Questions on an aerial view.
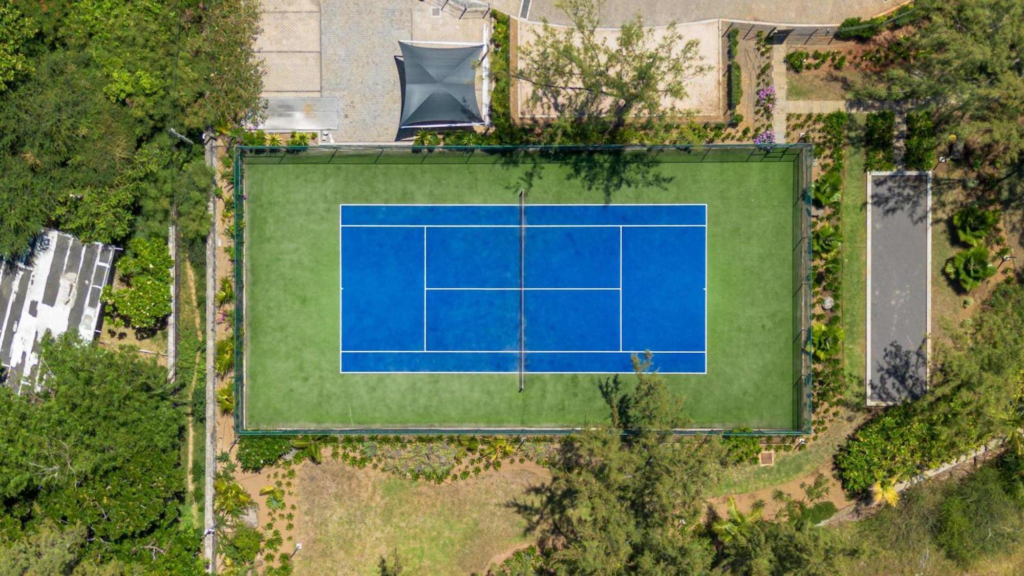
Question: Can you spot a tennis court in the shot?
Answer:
Yes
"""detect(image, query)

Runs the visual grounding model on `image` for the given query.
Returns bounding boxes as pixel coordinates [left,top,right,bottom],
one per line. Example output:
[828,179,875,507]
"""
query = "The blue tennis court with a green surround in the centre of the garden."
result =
[243,151,804,431]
